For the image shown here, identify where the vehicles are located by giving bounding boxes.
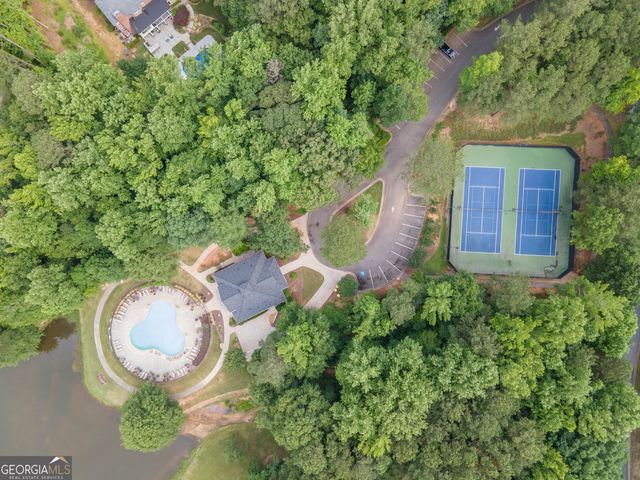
[441,42,456,58]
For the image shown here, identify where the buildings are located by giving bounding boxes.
[214,251,288,324]
[95,0,171,36]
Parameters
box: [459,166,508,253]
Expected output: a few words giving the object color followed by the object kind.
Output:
blue tennis court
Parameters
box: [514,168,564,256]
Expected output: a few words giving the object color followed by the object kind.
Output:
blue tennis court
